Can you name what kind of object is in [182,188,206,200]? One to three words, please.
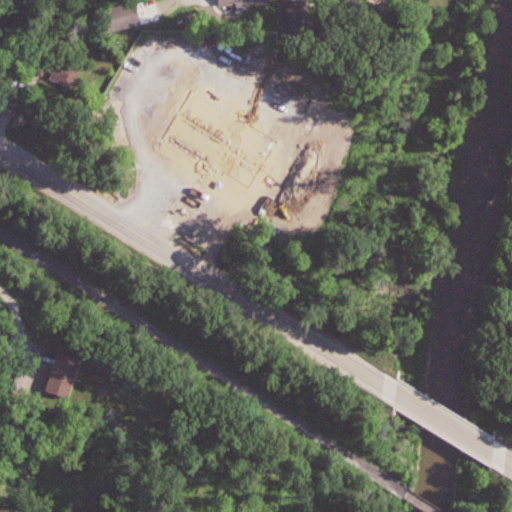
vehicle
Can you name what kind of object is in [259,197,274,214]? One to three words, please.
vehicle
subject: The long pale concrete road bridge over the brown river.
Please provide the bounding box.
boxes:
[380,368,505,478]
